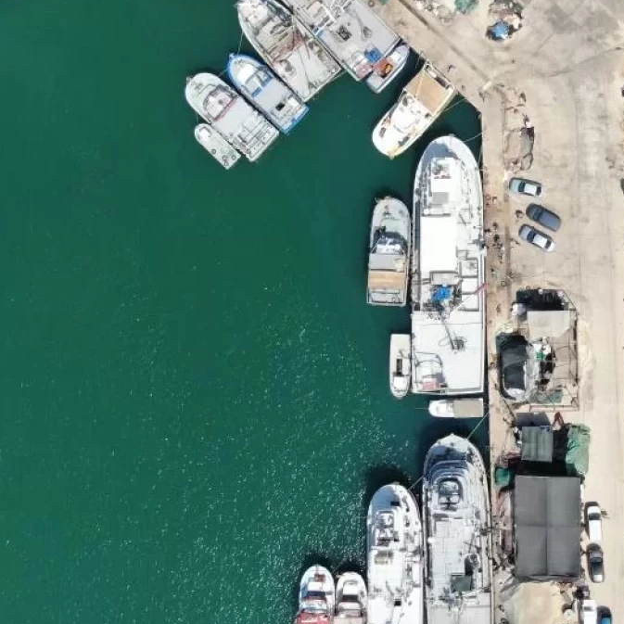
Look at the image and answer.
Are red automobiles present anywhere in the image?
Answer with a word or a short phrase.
No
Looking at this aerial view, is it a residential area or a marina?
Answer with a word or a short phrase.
marina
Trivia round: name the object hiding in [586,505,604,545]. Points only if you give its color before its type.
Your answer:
white car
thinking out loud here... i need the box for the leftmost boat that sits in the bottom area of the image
[298,563,334,624]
